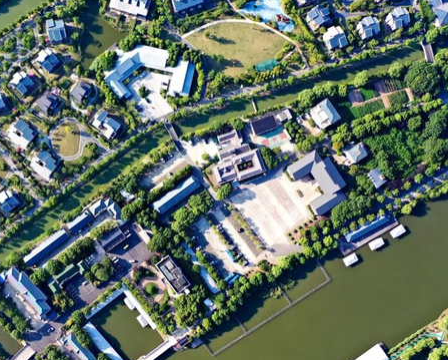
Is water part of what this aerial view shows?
Yes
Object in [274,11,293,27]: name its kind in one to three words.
ship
